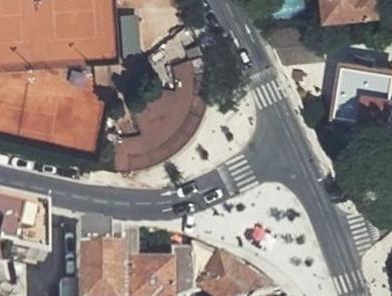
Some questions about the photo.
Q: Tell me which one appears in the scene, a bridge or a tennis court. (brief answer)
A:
tennis court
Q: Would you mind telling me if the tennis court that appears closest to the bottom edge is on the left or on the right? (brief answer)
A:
left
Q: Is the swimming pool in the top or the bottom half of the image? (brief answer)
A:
top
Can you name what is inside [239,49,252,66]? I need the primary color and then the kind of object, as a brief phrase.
white vehicle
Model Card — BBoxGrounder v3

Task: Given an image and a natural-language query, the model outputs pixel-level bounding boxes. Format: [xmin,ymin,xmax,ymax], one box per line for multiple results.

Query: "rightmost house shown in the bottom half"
[196,248,274,296]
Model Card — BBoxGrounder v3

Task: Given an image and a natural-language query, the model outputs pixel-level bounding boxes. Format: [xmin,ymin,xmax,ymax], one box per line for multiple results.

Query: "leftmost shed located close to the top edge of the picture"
[120,14,141,63]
